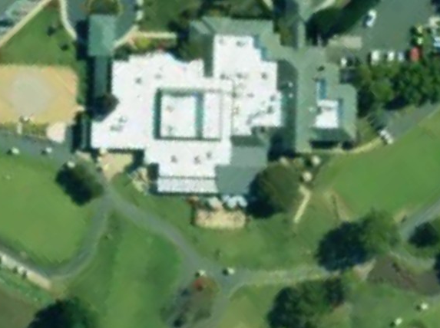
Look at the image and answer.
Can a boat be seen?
No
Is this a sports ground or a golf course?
golf course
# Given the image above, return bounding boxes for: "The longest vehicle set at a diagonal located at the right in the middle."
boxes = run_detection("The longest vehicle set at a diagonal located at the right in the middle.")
[379,128,393,145]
